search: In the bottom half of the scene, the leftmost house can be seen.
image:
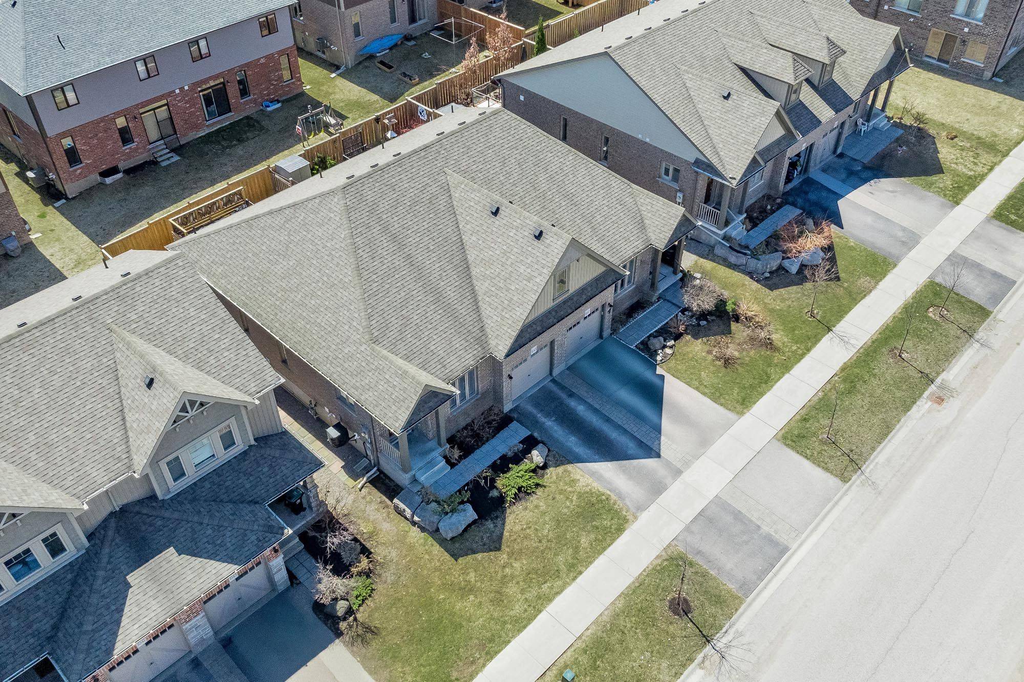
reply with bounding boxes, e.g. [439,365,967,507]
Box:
[0,250,329,682]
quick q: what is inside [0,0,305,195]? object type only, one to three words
house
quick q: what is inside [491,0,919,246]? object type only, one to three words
house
